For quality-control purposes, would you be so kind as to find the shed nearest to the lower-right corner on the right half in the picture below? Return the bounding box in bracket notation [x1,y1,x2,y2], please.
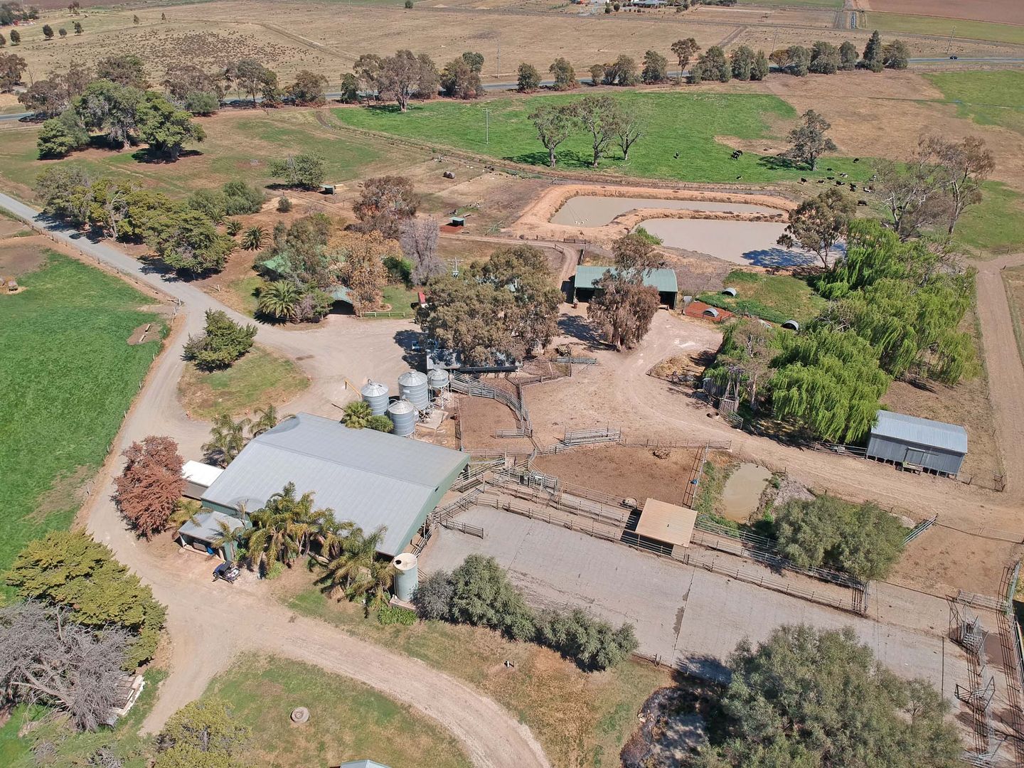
[864,408,969,480]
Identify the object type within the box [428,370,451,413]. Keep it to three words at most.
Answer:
silo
